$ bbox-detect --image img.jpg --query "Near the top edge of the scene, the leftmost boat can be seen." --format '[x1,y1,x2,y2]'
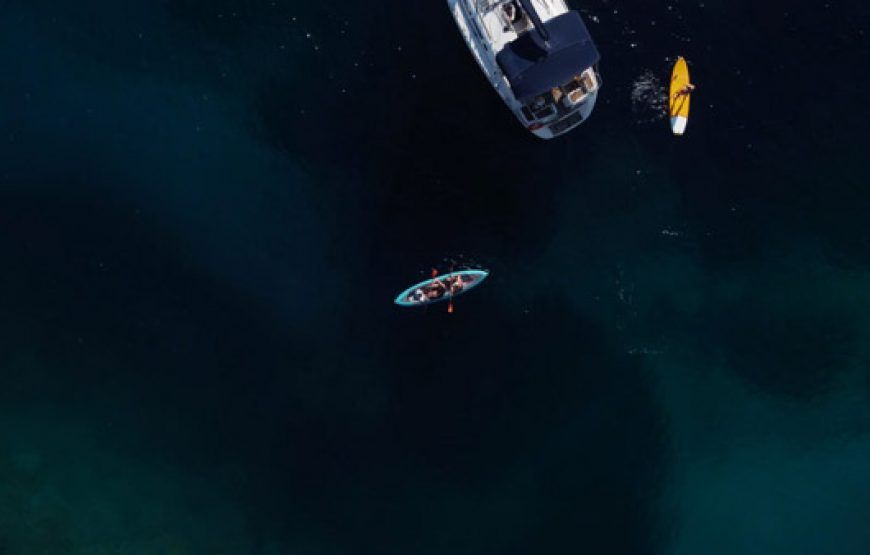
[443,0,603,143]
